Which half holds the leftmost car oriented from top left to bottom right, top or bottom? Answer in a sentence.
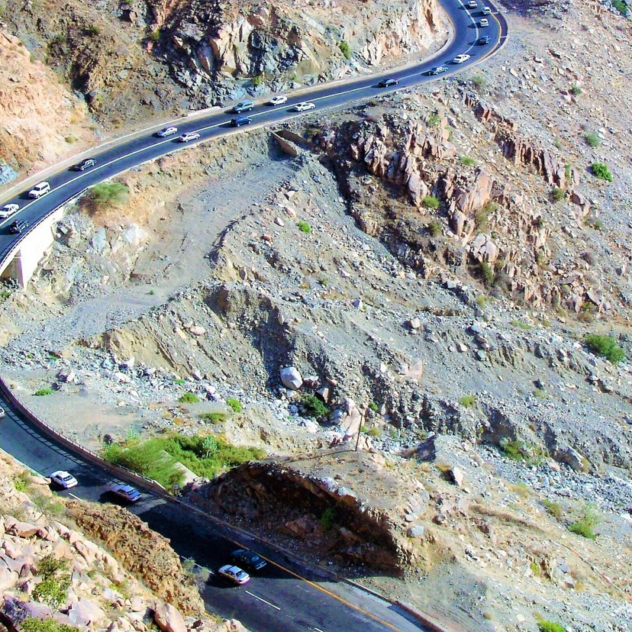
You can find the leftmost car oriented from top left to bottom right in the bottom half.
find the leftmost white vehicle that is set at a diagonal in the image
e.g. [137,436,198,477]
[0,204,20,222]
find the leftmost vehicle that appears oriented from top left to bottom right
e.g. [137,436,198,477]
[48,470,80,492]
